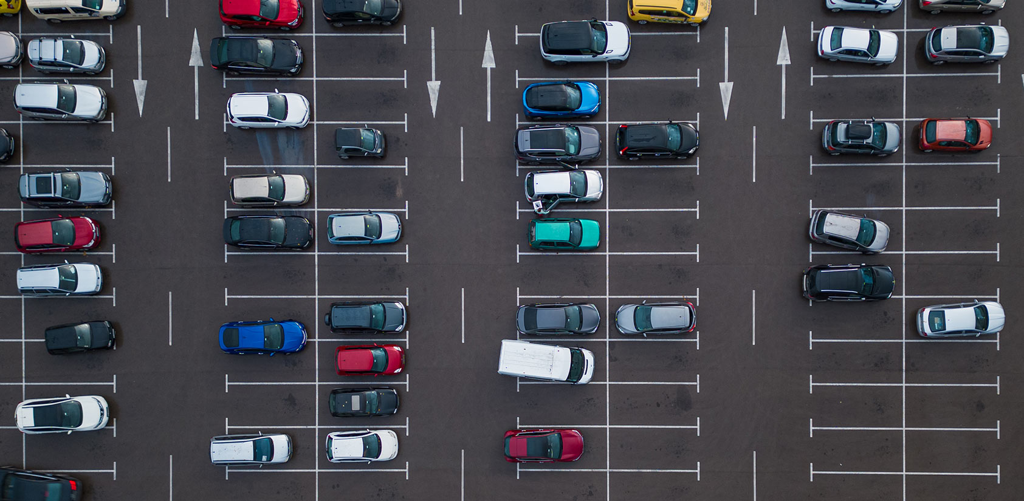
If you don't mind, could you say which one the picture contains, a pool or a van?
van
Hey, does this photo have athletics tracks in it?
No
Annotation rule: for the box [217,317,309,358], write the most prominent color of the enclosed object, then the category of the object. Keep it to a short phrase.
blue car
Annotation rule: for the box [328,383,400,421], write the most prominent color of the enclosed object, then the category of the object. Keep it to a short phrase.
black car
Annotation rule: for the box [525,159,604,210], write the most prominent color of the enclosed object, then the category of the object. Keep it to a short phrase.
white car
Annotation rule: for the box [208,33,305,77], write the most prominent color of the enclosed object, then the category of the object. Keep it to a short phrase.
black car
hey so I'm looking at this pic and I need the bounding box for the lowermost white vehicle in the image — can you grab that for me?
[325,426,399,466]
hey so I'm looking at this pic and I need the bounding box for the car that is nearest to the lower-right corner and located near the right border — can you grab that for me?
[913,298,1007,340]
